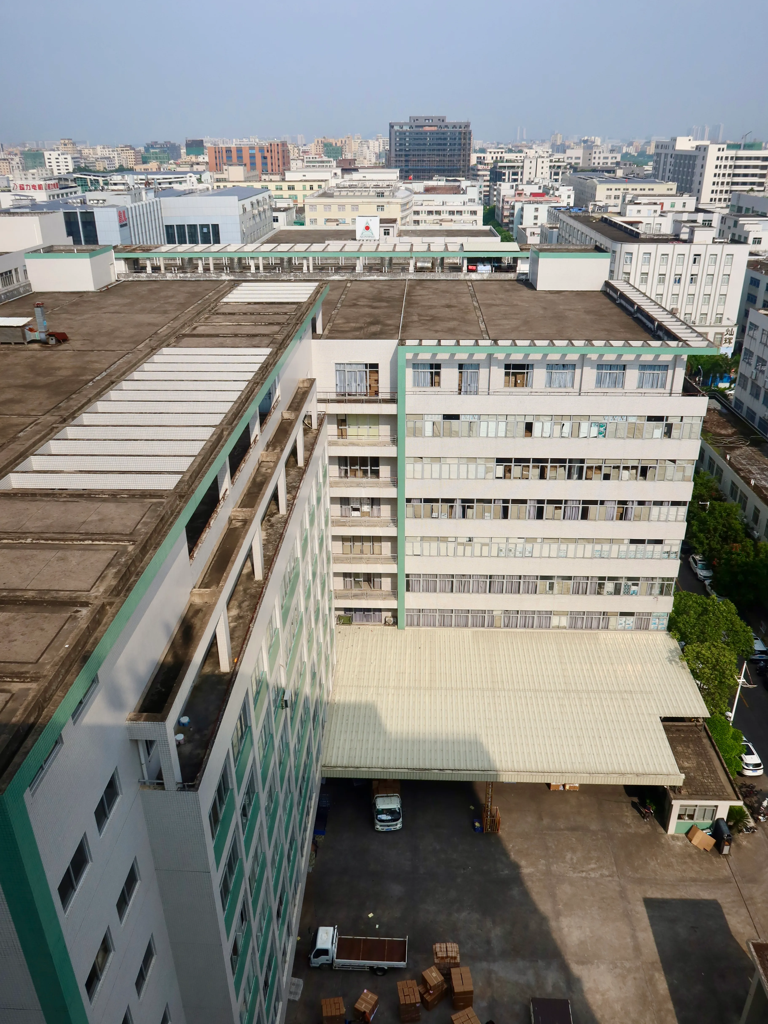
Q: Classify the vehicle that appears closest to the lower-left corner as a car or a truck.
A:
truck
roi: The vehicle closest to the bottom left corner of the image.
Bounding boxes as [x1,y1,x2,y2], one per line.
[307,920,408,971]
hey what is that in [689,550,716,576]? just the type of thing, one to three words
car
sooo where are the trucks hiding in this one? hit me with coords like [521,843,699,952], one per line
[307,920,408,971]
[371,778,406,824]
